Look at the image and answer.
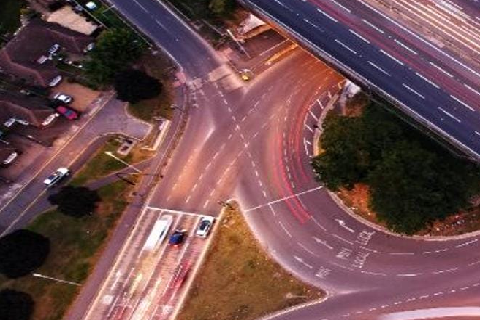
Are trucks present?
Yes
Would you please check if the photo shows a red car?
Yes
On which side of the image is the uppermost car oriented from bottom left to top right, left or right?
left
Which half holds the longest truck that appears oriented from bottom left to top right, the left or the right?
left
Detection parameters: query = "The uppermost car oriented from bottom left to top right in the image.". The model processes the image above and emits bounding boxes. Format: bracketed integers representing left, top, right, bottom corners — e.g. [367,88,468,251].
[44,166,71,188]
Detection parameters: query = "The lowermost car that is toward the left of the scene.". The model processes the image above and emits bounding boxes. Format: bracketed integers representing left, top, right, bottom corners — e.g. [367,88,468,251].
[173,262,191,286]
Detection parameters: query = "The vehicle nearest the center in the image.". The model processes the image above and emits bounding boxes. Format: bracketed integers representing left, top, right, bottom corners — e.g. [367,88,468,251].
[196,215,214,239]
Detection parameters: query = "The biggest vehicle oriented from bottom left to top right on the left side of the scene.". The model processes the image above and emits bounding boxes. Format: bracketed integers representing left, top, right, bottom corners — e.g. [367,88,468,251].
[133,209,175,255]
